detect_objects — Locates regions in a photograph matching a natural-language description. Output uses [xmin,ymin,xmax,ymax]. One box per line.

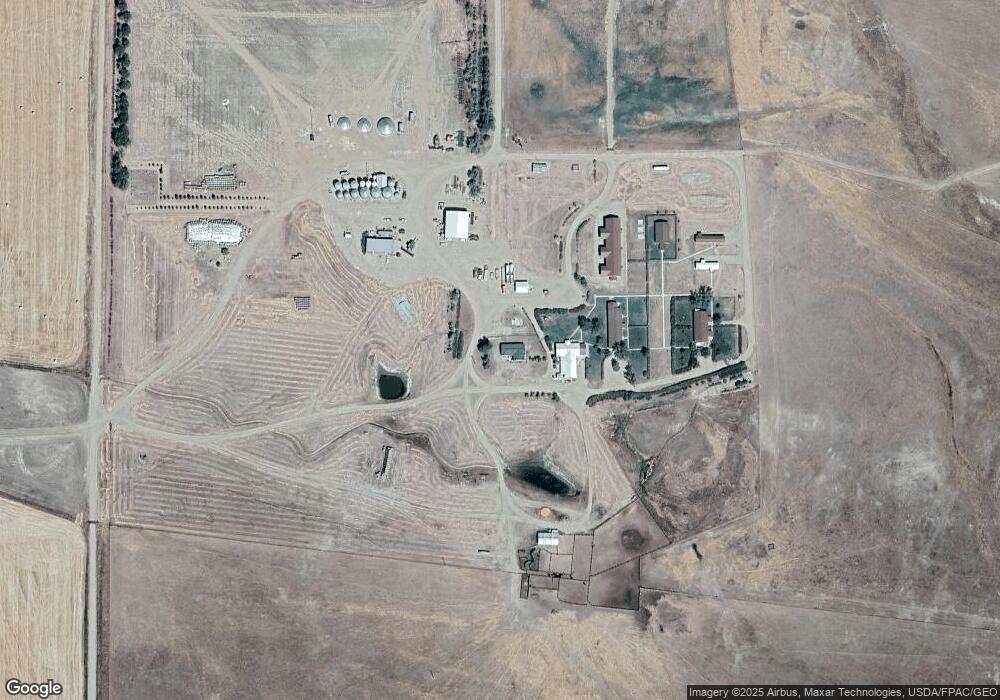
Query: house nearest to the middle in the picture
[501,343,525,362]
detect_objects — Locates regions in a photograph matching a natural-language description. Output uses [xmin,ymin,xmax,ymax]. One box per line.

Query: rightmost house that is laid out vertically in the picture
[694,309,711,346]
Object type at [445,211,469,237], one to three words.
shed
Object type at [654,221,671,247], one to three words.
building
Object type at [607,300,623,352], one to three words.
house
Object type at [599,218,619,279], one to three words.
house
